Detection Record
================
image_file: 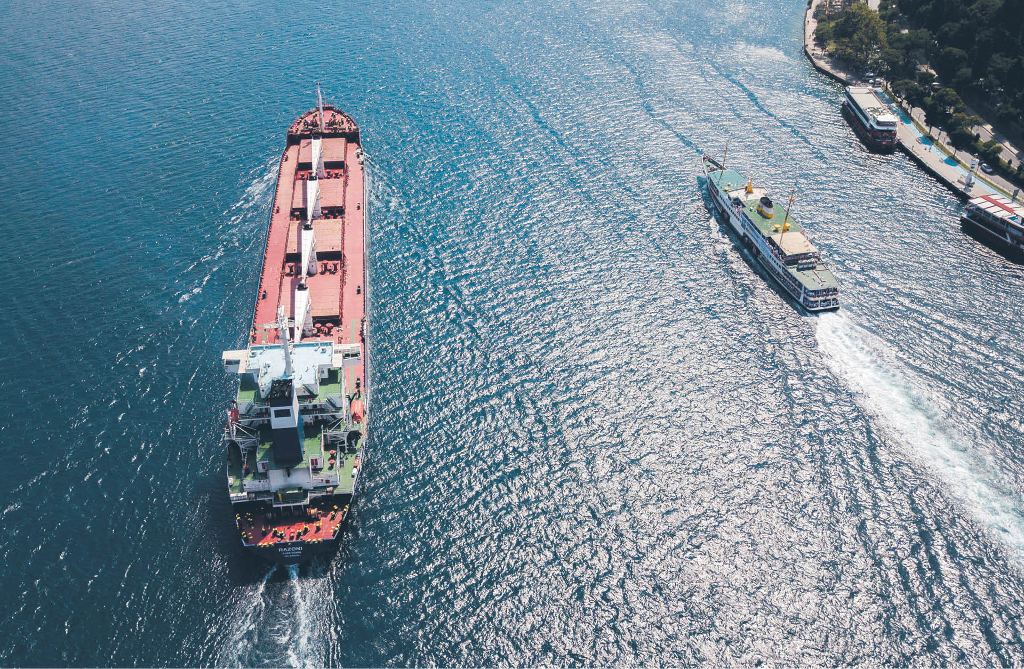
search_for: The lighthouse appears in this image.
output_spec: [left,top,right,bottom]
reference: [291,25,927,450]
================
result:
[961,159,981,191]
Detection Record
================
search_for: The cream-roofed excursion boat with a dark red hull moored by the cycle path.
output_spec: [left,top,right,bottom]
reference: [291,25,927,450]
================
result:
[845,86,898,149]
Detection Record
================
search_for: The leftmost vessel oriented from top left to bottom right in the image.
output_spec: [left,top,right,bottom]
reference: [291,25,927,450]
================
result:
[704,146,840,312]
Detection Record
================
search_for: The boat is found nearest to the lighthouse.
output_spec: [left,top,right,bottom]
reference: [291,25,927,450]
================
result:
[963,195,1024,259]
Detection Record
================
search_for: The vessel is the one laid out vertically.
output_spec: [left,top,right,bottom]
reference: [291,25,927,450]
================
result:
[219,83,370,567]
